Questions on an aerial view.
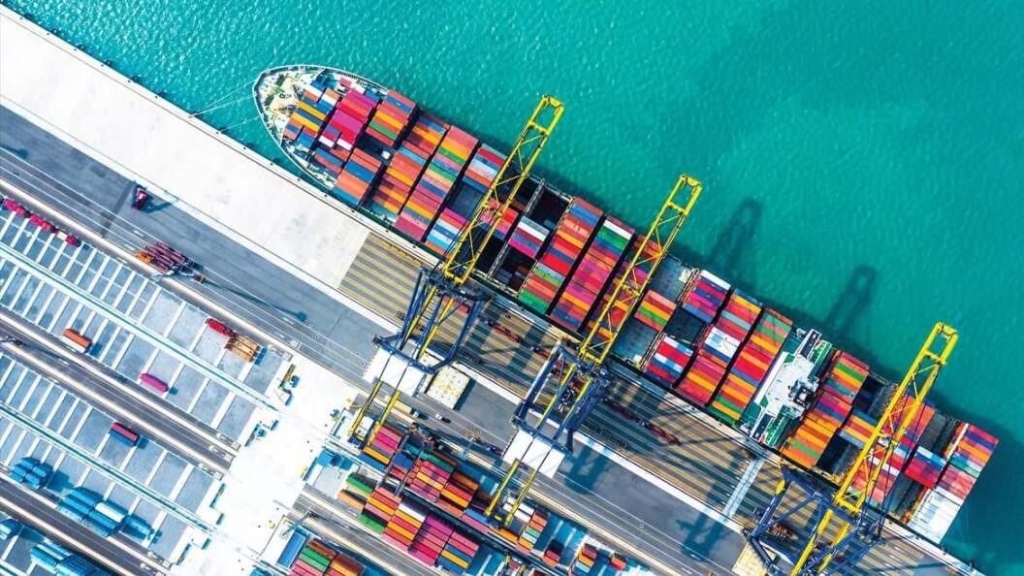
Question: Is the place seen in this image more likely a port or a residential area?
port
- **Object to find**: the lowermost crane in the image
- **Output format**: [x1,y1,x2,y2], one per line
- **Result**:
[485,540,524,576]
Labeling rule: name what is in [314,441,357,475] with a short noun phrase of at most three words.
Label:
shed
